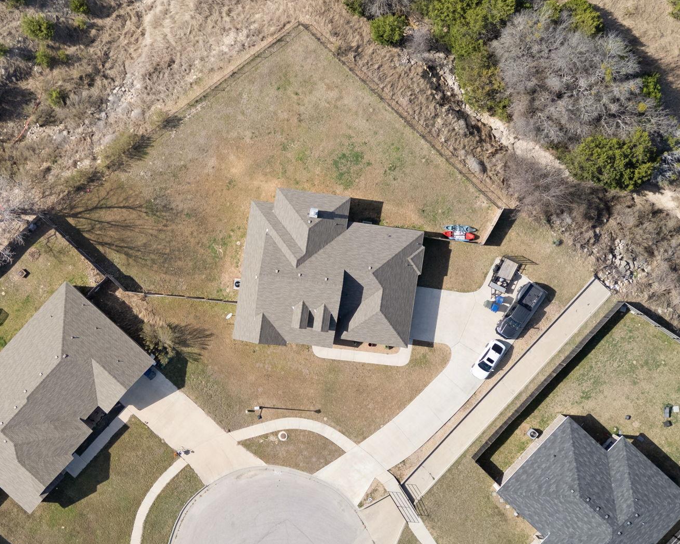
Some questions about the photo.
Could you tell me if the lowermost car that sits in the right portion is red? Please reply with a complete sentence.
No, the lowermost car that sits in the right portion is white.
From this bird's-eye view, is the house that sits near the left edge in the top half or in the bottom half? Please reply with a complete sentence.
It is in the bottom half that the house that sits near the left edge appears.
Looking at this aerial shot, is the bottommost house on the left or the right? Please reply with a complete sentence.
The bottommost house sits on the right side.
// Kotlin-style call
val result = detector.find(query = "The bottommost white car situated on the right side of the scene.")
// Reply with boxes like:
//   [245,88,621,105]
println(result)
[470,336,507,380]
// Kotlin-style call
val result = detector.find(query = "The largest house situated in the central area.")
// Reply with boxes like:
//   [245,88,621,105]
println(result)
[233,187,426,349]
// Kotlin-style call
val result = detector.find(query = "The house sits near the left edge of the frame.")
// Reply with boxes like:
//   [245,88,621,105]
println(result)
[0,282,154,514]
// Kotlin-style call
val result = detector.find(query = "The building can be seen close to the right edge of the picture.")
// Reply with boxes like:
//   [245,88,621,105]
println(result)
[497,416,680,544]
